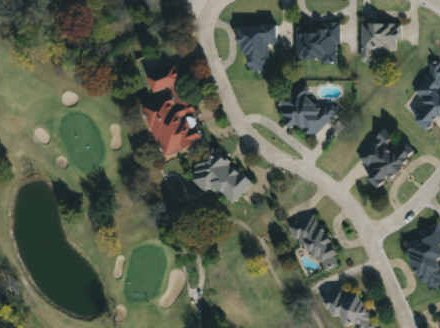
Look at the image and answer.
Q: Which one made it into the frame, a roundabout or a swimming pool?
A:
swimming pool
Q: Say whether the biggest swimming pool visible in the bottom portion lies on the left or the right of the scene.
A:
right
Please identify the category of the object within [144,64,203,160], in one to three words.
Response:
house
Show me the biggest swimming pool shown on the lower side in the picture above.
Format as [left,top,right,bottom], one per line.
[296,247,320,276]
